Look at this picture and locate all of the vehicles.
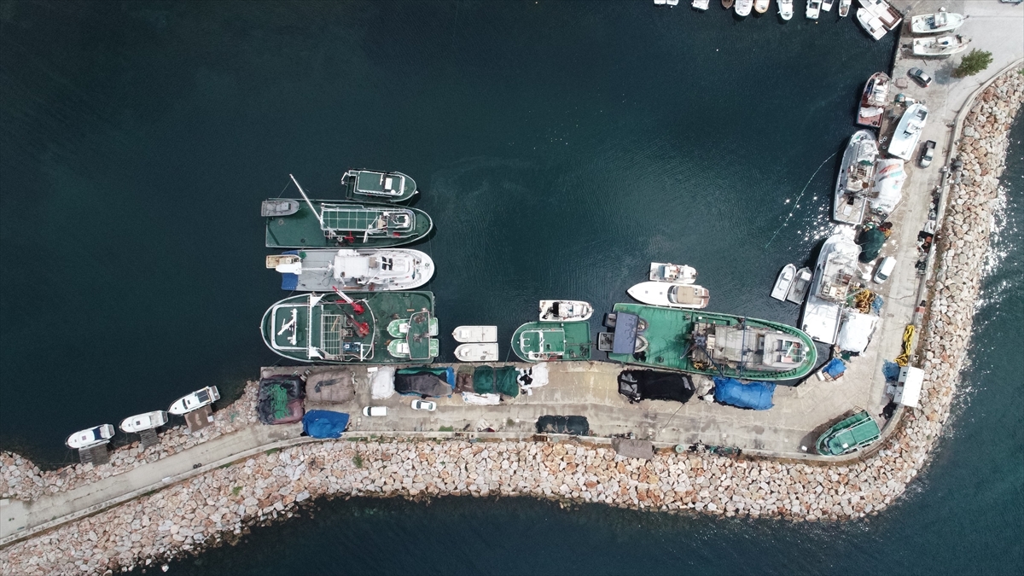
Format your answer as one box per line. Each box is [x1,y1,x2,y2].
[905,67,932,89]
[873,256,898,284]
[411,398,437,410]
[363,405,389,417]
[918,140,937,169]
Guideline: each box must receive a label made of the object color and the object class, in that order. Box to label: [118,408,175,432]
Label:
white boat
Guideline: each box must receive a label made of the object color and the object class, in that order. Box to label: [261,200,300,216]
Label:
gray boat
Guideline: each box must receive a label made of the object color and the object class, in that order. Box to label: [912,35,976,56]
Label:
white boat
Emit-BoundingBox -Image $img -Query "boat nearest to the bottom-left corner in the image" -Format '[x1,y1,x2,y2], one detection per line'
[64,420,123,449]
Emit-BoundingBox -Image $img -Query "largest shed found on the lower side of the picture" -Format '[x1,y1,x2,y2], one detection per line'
[892,366,924,407]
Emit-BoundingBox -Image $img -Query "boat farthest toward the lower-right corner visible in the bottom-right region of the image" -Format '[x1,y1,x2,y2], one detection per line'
[816,406,880,454]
